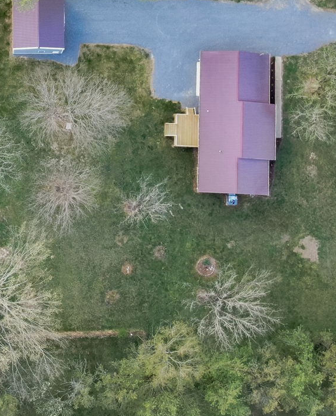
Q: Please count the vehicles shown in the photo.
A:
zero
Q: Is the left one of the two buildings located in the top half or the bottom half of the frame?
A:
top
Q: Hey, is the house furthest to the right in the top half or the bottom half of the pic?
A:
top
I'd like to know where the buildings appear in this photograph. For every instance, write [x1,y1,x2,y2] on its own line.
[12,0,64,53]
[164,49,277,193]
